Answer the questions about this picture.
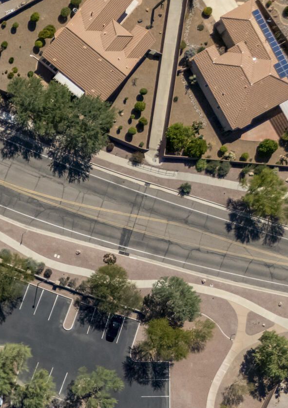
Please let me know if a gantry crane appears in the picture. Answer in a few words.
No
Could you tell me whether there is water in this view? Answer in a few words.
No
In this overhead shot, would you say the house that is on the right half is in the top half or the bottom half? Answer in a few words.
top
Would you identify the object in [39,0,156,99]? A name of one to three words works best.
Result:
house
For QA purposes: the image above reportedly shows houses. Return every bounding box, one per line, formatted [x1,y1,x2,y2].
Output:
[186,0,288,139]
[39,0,156,99]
